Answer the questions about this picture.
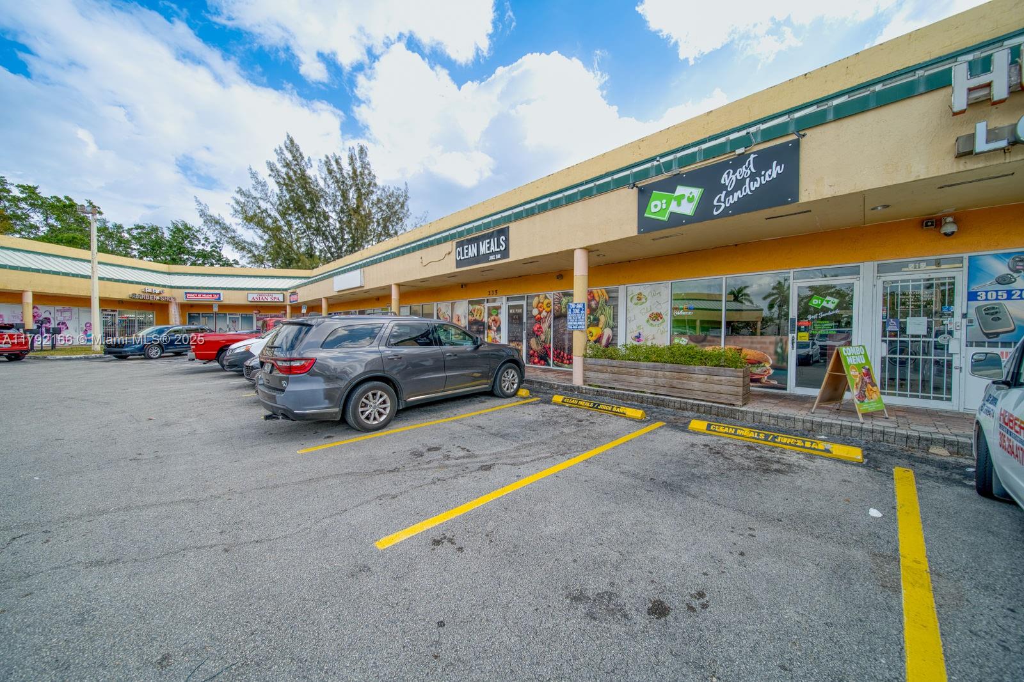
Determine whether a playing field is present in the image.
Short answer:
No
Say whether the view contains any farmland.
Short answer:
No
